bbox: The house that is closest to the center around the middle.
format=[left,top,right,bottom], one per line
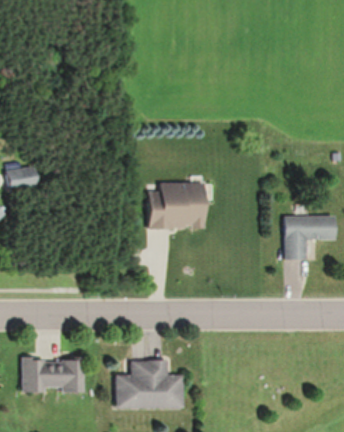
[146,182,208,229]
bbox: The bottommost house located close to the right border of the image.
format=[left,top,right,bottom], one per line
[282,216,338,259]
